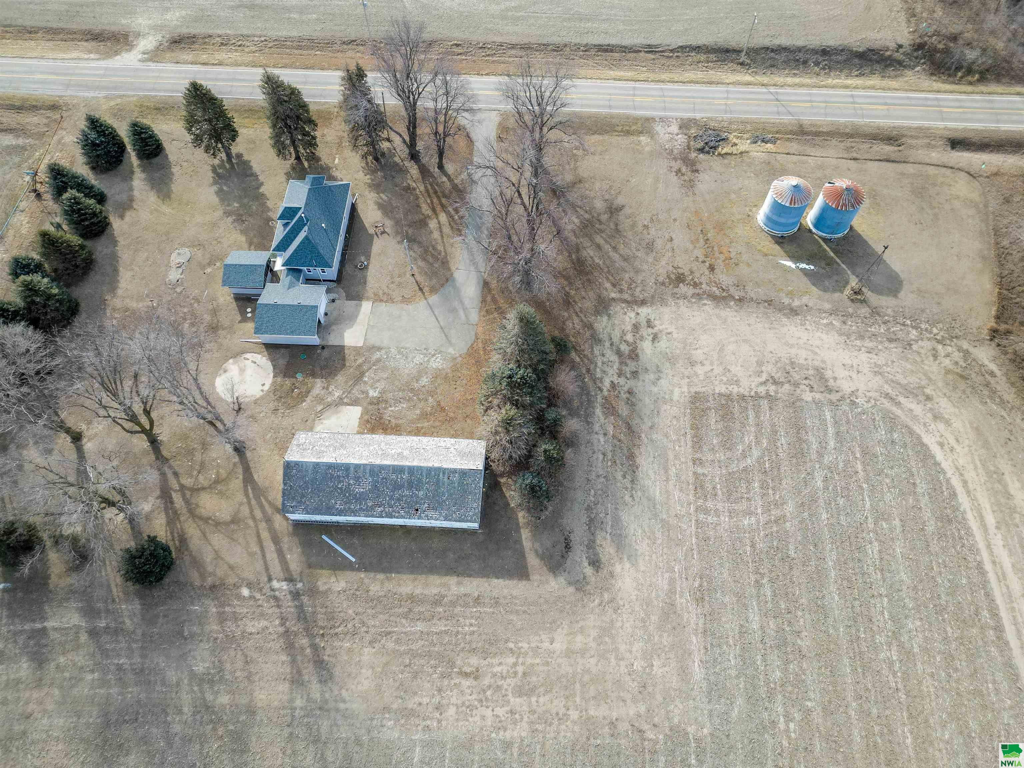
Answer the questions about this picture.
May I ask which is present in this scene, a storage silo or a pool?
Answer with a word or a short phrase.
storage silo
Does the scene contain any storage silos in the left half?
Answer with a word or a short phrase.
No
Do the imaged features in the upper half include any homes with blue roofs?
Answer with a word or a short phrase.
Yes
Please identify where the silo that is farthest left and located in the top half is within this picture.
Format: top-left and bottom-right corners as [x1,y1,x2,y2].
[757,177,813,236]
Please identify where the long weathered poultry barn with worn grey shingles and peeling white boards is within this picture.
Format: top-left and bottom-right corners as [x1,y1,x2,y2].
[282,431,486,532]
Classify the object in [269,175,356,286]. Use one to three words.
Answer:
house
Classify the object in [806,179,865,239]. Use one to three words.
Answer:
silo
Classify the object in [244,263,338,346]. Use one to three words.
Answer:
building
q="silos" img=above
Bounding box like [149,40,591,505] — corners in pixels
[806,179,865,239]
[757,177,813,236]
